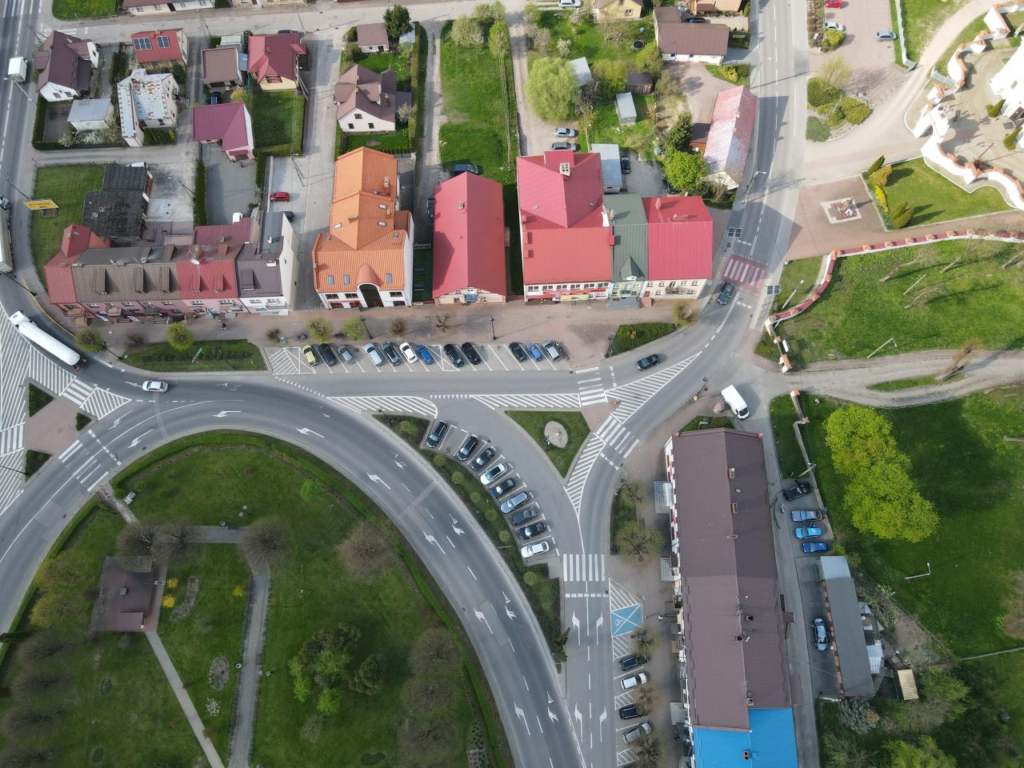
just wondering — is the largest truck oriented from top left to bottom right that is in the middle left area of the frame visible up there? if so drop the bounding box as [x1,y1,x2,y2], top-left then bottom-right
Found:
[9,314,90,376]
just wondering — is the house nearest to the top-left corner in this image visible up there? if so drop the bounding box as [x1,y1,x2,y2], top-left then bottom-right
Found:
[34,30,97,101]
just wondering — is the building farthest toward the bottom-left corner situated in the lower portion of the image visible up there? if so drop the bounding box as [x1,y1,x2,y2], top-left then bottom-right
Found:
[91,556,152,632]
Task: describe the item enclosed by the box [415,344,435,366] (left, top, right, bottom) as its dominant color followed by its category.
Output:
blue car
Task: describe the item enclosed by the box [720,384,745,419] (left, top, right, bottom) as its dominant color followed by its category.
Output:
white vehicle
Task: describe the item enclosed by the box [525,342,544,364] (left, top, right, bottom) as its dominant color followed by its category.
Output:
blue car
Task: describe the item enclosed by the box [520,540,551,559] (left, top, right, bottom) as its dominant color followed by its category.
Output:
white car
